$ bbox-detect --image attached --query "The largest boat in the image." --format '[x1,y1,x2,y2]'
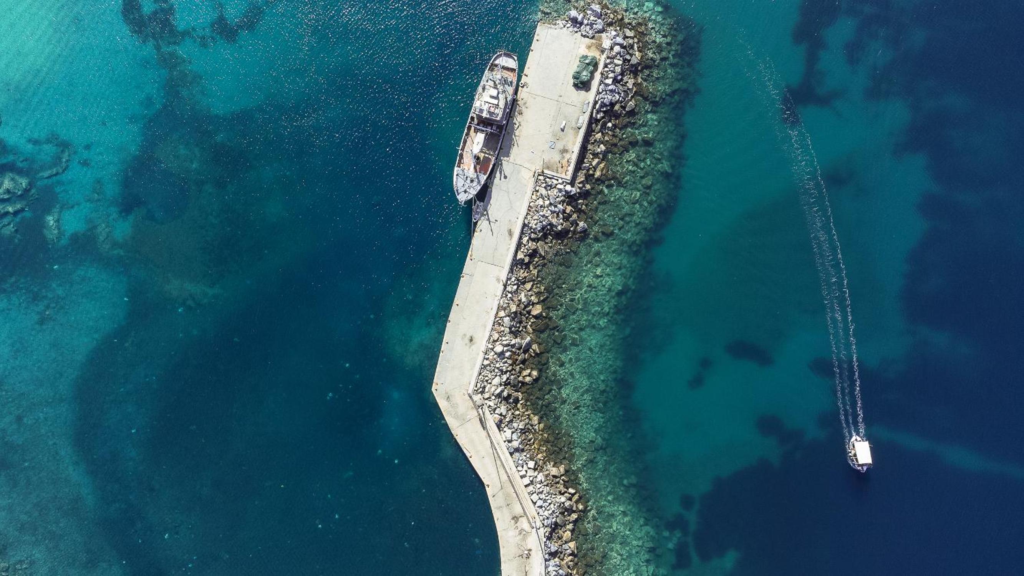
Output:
[454,46,518,208]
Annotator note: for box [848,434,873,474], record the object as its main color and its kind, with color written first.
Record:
white boat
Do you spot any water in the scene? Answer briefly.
Yes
